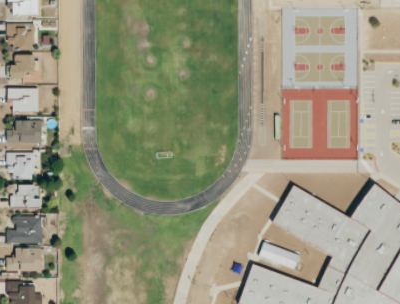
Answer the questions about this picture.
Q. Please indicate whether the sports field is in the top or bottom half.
top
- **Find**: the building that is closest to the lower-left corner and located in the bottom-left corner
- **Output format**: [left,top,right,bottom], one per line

[6,280,42,304]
